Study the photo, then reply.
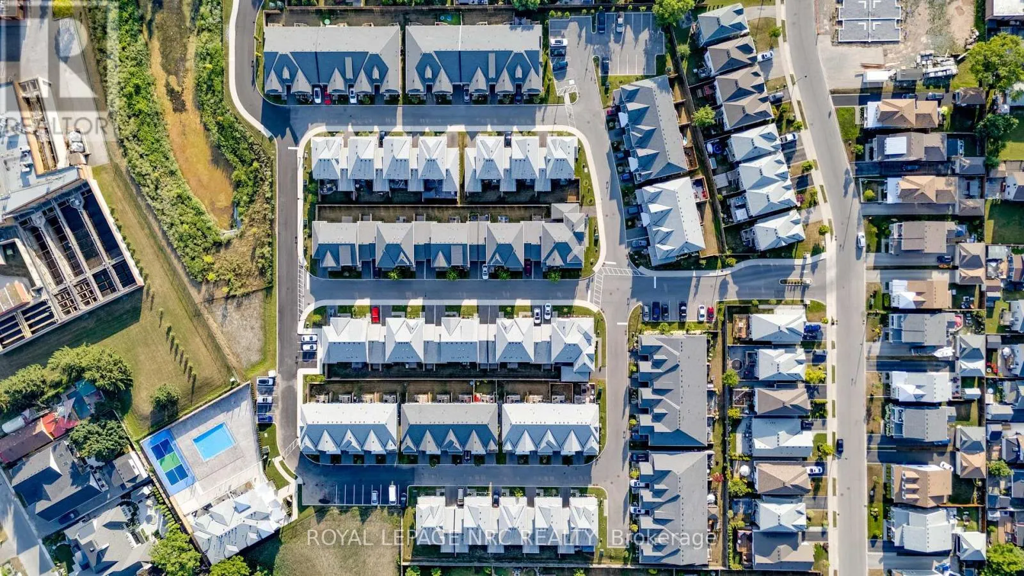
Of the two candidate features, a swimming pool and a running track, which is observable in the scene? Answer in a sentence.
The one in the frame is a swimming pool.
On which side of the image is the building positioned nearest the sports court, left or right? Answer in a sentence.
It is on the left.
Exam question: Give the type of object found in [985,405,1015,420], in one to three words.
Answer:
shed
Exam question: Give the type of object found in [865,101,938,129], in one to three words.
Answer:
house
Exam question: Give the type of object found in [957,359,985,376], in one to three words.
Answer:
building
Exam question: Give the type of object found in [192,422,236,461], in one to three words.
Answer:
swimming pool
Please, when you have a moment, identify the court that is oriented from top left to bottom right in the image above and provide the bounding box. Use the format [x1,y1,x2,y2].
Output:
[141,428,198,495]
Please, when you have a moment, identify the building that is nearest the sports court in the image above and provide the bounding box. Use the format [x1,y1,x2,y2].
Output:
[114,450,153,486]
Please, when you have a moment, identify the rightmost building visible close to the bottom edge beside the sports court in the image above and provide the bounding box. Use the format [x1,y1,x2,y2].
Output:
[189,475,288,565]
